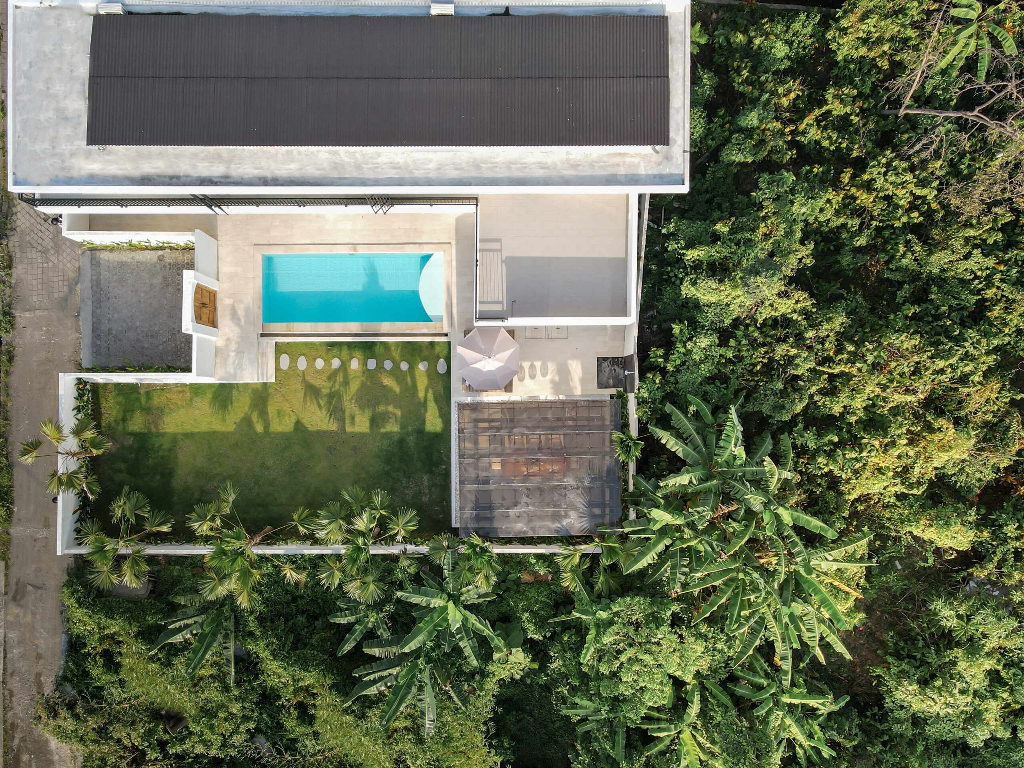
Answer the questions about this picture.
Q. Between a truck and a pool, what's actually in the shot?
pool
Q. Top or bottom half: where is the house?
top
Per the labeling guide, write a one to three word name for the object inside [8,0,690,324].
house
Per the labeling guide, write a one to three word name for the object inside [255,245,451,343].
swimming pool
